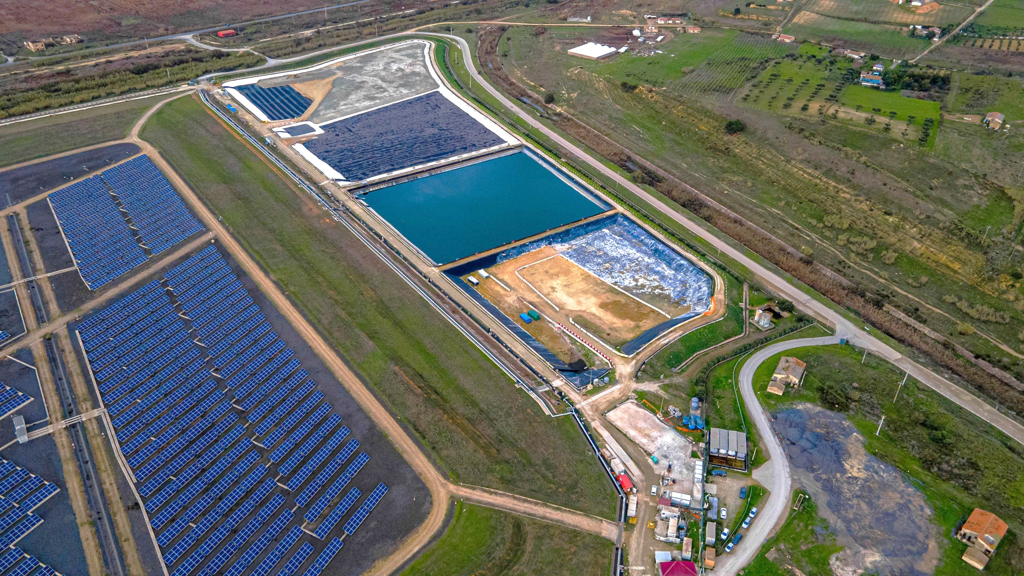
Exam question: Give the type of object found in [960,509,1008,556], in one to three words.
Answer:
house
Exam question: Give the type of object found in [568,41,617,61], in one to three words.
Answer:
greenhouse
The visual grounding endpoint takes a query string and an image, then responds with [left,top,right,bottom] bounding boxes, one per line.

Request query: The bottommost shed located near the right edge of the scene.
[960,547,990,574]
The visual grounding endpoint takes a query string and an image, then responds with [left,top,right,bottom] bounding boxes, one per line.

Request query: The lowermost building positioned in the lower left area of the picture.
[12,413,29,440]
